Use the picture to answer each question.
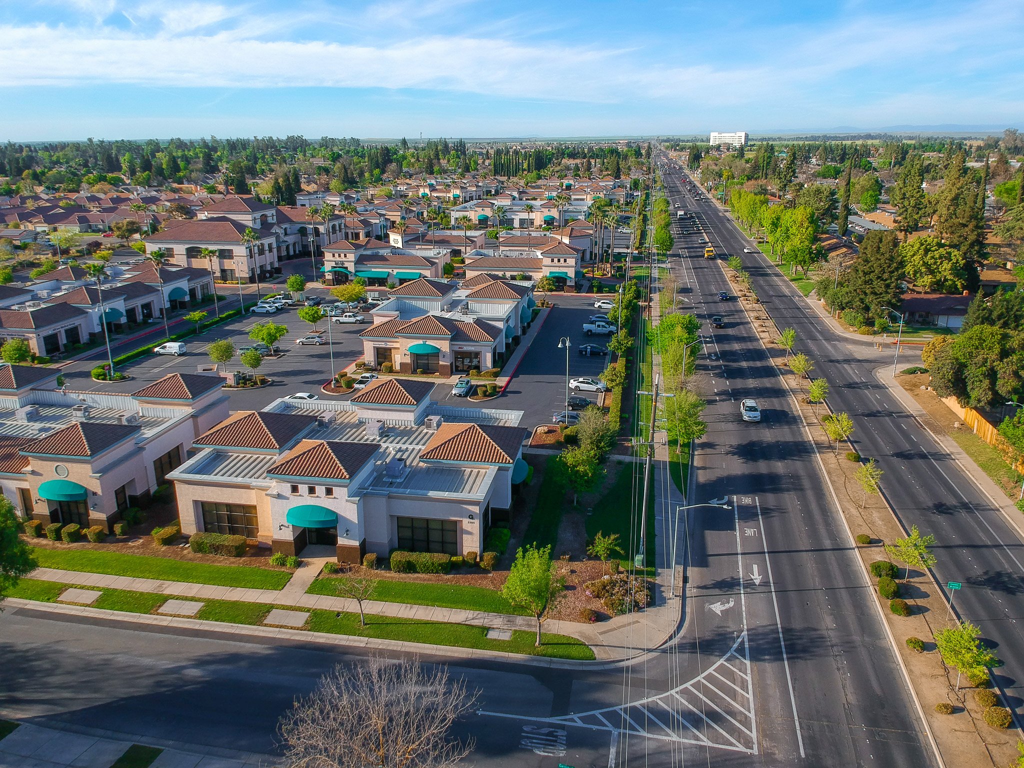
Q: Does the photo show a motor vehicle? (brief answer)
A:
Yes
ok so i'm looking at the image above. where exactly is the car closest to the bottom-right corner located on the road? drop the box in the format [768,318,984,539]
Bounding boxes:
[739,398,763,421]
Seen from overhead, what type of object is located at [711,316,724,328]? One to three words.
vehicle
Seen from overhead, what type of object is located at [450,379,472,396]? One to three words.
car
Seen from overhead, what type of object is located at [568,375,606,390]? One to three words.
car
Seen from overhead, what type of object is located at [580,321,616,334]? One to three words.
vehicle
